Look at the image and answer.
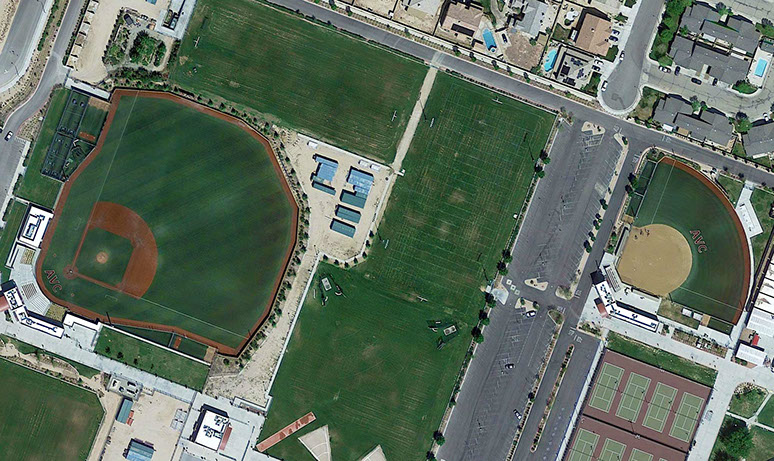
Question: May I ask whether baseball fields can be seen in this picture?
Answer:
Yes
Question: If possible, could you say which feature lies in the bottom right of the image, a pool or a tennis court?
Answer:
tennis court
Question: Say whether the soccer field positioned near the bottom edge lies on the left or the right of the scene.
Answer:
left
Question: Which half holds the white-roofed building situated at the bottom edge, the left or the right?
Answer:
left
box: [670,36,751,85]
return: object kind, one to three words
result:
building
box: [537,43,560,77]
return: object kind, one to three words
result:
swimming pool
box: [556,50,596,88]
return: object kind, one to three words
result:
house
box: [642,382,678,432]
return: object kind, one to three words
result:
tennis court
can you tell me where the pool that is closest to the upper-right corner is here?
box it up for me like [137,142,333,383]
[747,47,774,88]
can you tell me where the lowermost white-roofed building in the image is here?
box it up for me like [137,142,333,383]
[194,410,228,453]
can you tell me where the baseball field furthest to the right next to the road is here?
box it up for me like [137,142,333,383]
[617,156,751,325]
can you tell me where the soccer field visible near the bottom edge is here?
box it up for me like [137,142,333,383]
[0,357,106,461]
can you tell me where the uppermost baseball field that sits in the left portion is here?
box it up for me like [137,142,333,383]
[36,90,298,356]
